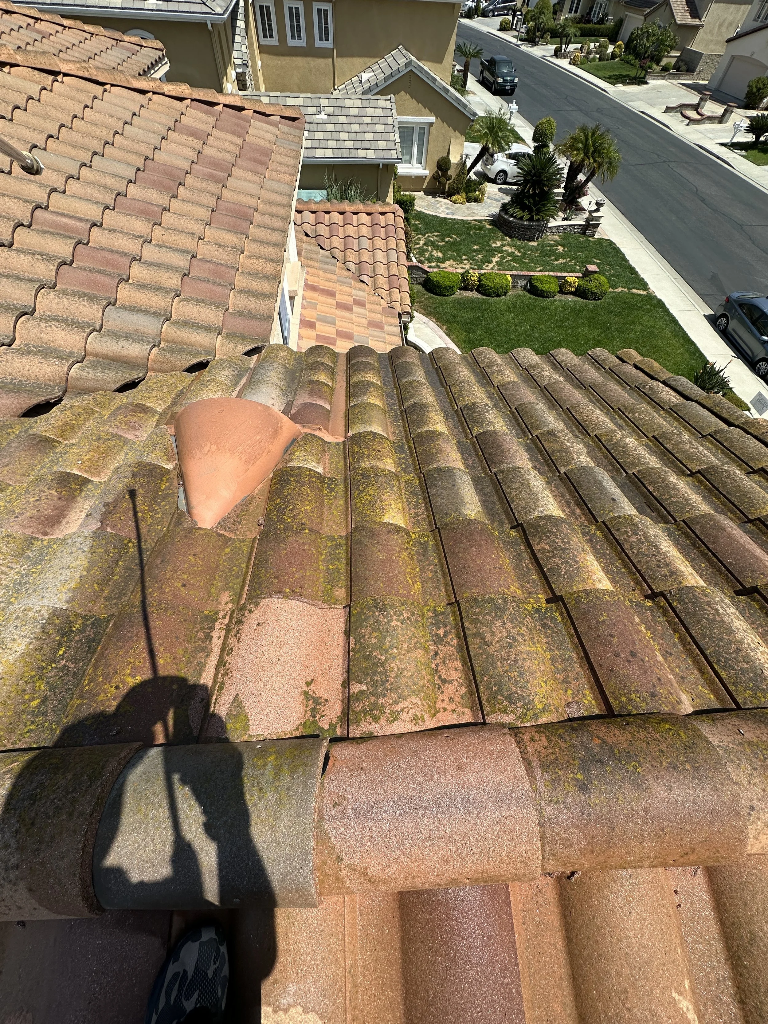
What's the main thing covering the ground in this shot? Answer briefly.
buildings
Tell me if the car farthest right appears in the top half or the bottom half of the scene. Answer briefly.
top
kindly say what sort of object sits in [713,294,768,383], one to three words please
car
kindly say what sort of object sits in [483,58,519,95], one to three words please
truck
